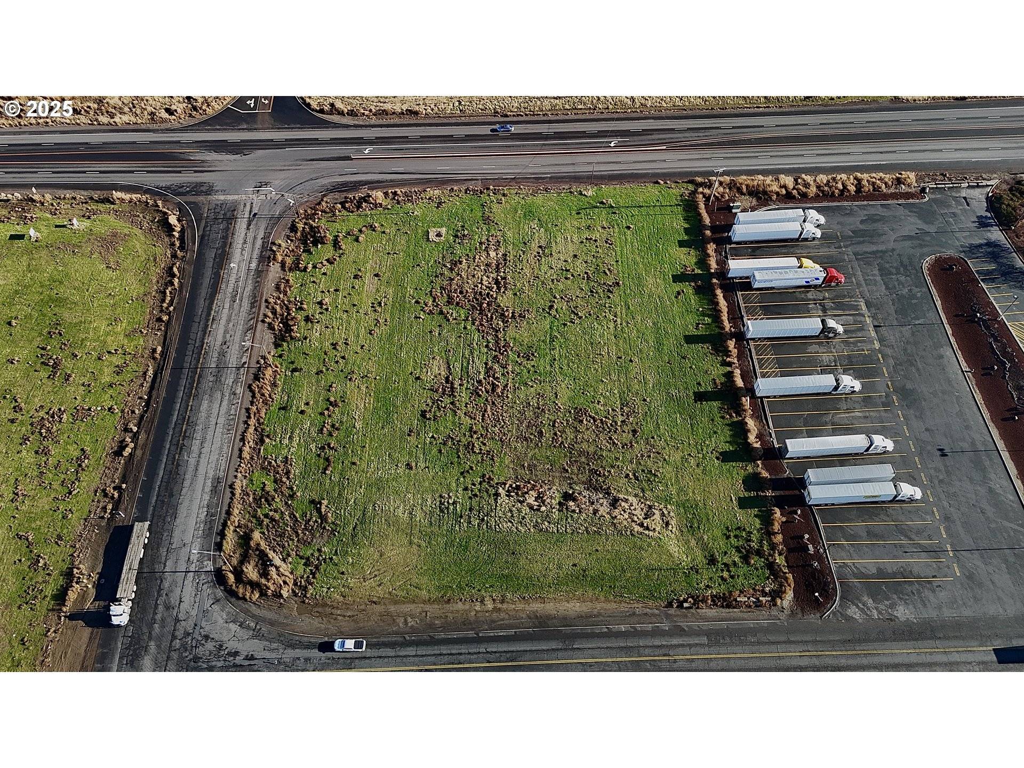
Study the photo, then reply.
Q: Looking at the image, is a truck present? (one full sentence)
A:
Yes, looking at the shot, I can spot a truck.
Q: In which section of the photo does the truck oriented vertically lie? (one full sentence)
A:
The truck oriented vertically appears toward the bottom left of the photo.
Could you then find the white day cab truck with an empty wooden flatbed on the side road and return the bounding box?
[109,521,151,629]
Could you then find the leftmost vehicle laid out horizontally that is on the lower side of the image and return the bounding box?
[332,639,366,654]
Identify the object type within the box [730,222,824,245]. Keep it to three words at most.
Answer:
truck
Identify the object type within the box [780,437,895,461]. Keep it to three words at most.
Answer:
truck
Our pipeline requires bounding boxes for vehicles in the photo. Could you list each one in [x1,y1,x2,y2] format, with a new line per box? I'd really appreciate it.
[780,437,895,461]
[109,521,151,629]
[496,124,513,132]
[750,269,848,292]
[730,222,824,245]
[734,211,826,229]
[802,482,921,506]
[725,257,821,280]
[745,317,847,341]
[332,639,366,654]
[754,375,862,399]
